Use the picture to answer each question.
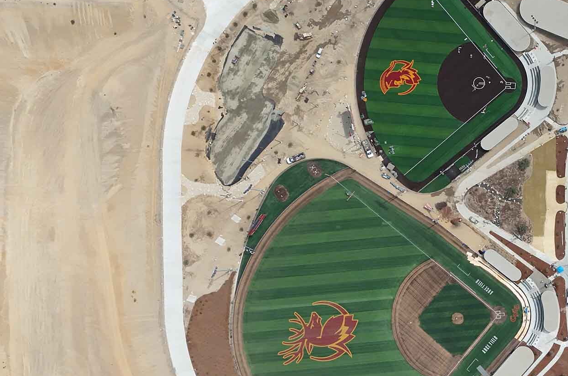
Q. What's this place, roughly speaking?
sports ground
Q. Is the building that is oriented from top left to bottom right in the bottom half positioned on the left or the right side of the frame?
right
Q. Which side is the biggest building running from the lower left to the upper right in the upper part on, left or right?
right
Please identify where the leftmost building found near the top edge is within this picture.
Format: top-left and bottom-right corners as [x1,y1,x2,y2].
[483,1,530,51]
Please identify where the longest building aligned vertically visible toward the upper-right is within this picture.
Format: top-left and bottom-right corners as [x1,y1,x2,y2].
[538,66,557,107]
